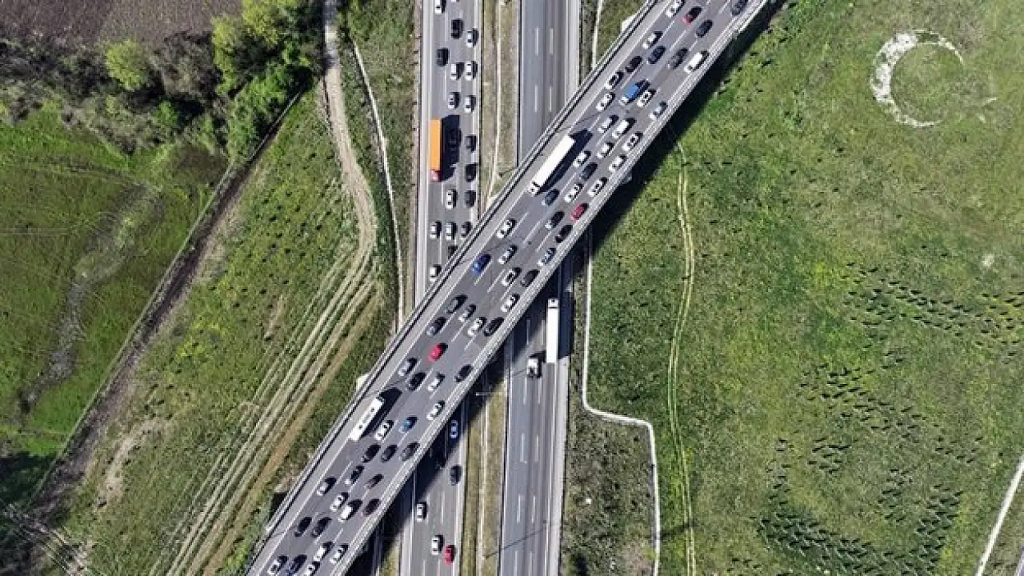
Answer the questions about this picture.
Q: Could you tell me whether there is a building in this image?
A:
No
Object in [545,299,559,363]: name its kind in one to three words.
vehicle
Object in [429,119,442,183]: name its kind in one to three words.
vehicle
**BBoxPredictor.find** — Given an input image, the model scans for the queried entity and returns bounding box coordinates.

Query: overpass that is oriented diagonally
[236,0,764,576]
